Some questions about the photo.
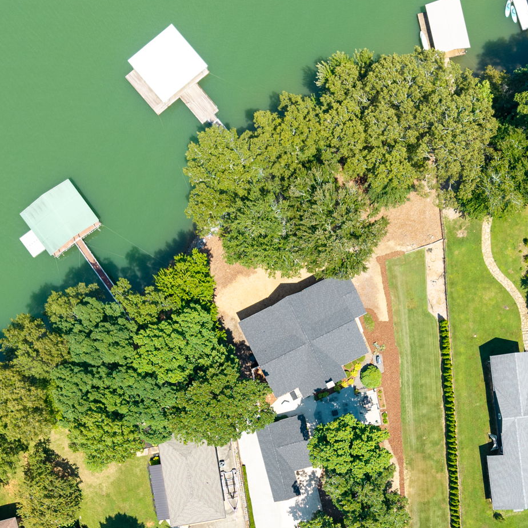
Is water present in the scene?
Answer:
Yes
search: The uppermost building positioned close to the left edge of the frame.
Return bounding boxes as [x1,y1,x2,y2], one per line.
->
[19,178,103,259]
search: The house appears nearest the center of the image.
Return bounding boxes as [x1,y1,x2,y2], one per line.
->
[239,272,370,399]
